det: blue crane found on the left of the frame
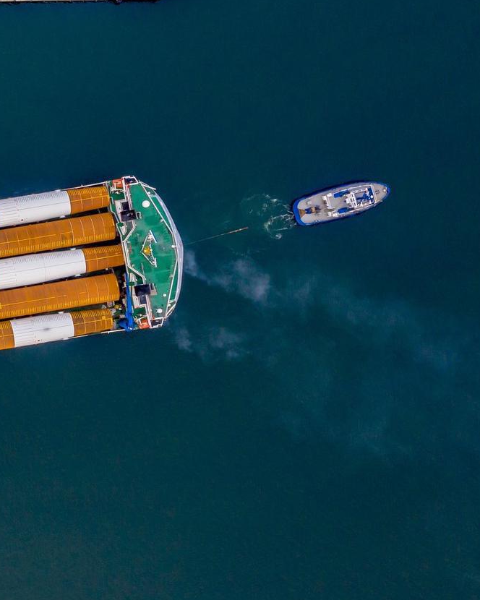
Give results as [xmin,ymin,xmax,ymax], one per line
[117,272,133,332]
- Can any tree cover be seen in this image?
No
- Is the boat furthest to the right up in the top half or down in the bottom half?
top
